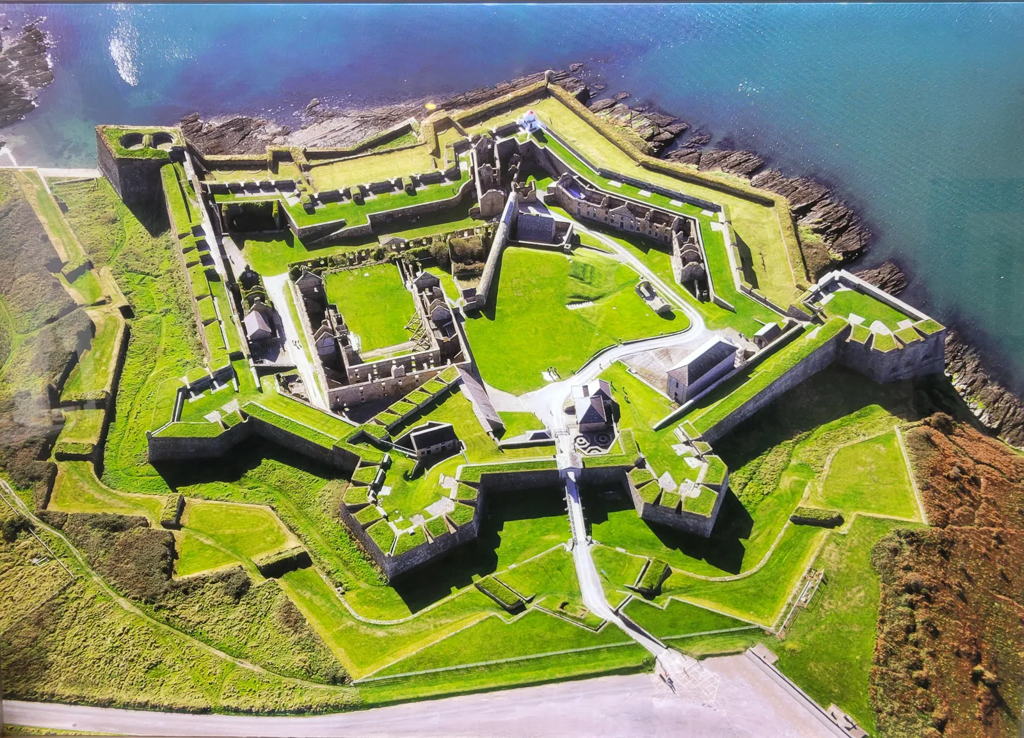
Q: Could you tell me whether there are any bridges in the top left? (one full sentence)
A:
No, in the top left there is no bridge.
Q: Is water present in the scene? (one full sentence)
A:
Yes, there is water in the image.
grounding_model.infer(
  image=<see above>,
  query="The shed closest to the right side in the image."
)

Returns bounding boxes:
[751,321,783,347]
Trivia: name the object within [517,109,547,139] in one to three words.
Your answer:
lighthouse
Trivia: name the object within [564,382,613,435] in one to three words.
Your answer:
building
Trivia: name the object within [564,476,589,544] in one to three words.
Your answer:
bridge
